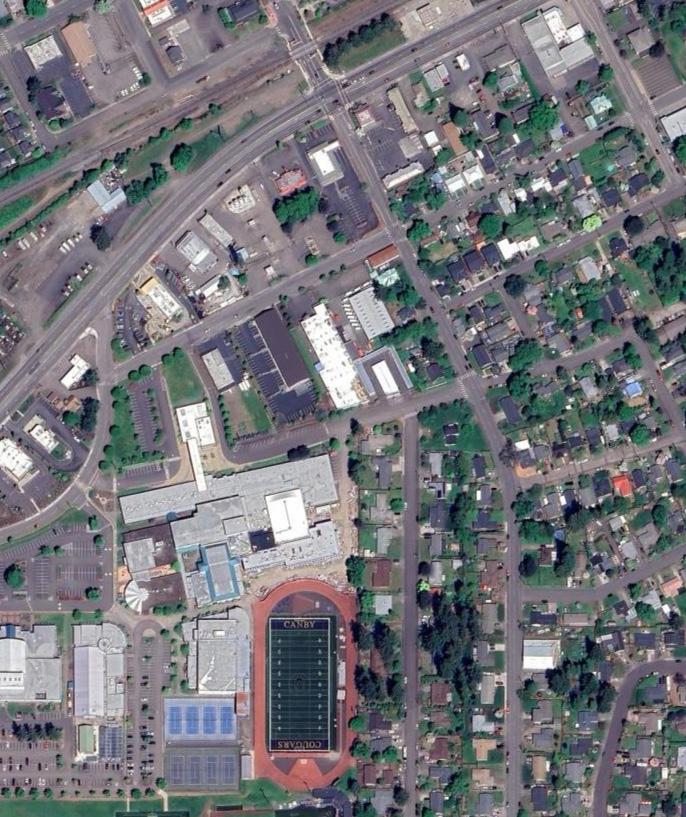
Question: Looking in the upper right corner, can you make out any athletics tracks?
No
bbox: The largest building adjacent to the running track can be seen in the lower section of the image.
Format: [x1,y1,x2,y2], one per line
[119,454,338,607]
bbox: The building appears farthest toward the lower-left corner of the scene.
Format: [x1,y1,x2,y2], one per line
[76,722,98,761]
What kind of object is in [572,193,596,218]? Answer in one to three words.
house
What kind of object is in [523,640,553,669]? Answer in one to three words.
building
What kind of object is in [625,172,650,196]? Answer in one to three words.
house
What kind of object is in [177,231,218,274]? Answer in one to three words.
building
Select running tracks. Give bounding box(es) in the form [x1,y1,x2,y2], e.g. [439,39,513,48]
[253,579,357,792]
